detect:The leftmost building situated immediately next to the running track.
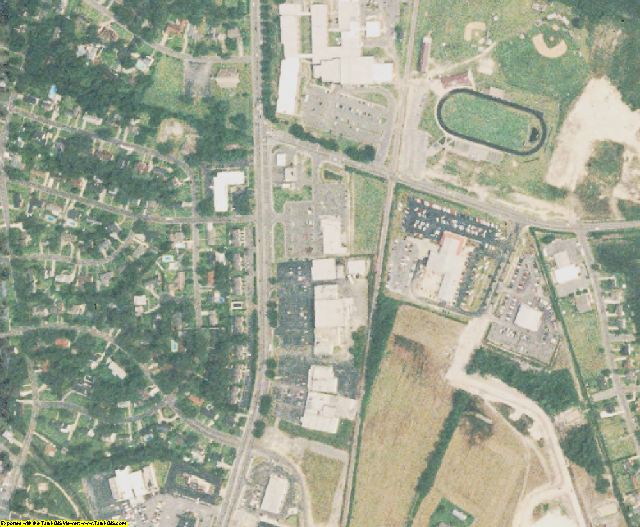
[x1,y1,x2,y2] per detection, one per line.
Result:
[276,0,392,114]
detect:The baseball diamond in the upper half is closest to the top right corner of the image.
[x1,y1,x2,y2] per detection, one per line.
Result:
[497,23,590,104]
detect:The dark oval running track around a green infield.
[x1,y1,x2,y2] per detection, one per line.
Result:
[435,87,548,156]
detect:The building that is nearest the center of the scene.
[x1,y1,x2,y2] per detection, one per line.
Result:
[311,259,336,279]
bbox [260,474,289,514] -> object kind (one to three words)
building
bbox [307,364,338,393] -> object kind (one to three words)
building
